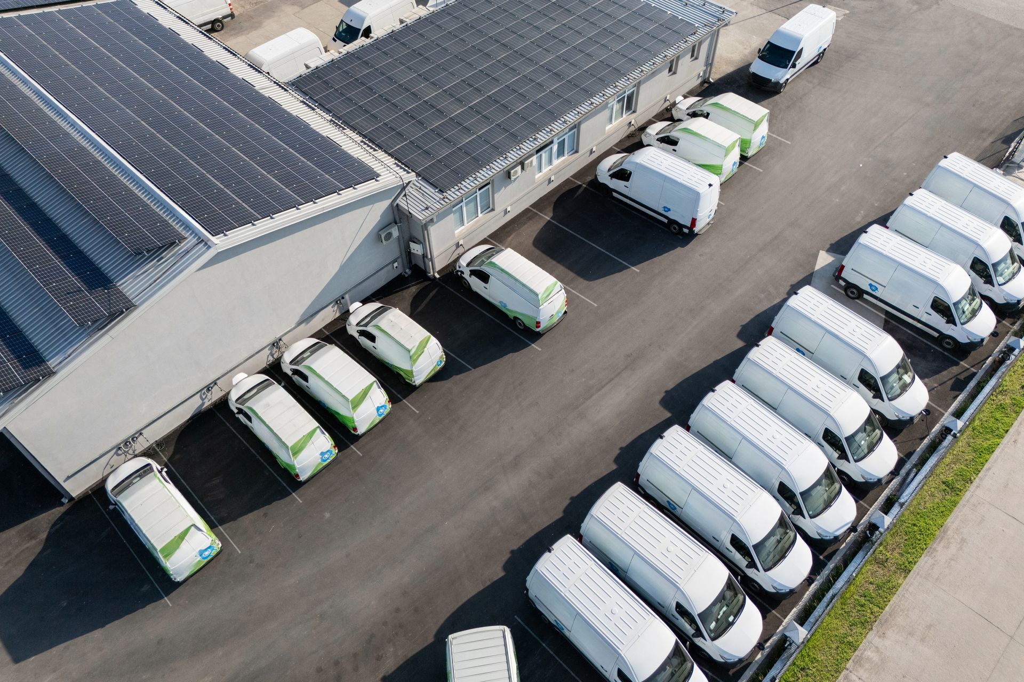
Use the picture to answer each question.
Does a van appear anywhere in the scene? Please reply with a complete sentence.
Yes, a van appears in the view.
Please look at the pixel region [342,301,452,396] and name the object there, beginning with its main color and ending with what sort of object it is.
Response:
white van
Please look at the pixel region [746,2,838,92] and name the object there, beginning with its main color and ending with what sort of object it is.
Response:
white van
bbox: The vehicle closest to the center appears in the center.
[460,249,565,334]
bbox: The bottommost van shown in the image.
[448,634,518,682]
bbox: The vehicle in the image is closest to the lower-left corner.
[105,461,224,585]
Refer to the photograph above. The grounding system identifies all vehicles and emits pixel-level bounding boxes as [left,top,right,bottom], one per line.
[243,32,326,85]
[224,377,340,485]
[105,461,224,585]
[746,2,838,92]
[634,423,817,600]
[529,534,712,682]
[460,249,565,334]
[582,481,769,669]
[686,377,860,544]
[767,283,936,428]
[145,0,228,38]
[731,330,901,486]
[448,634,518,682]
[598,144,723,237]
[670,92,771,159]
[643,116,742,183]
[342,301,452,396]
[833,222,1002,350]
[325,0,414,52]
[284,340,393,439]
[919,150,1024,266]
